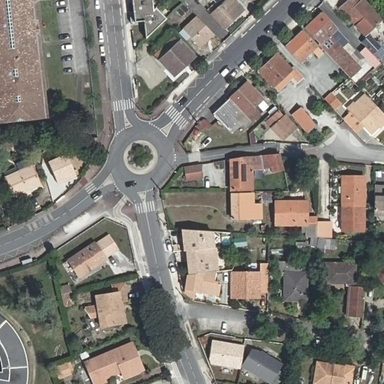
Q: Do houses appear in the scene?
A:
Yes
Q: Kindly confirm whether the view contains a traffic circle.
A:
Yes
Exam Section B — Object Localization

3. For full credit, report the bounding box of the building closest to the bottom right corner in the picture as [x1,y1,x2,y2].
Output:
[314,362,356,384]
